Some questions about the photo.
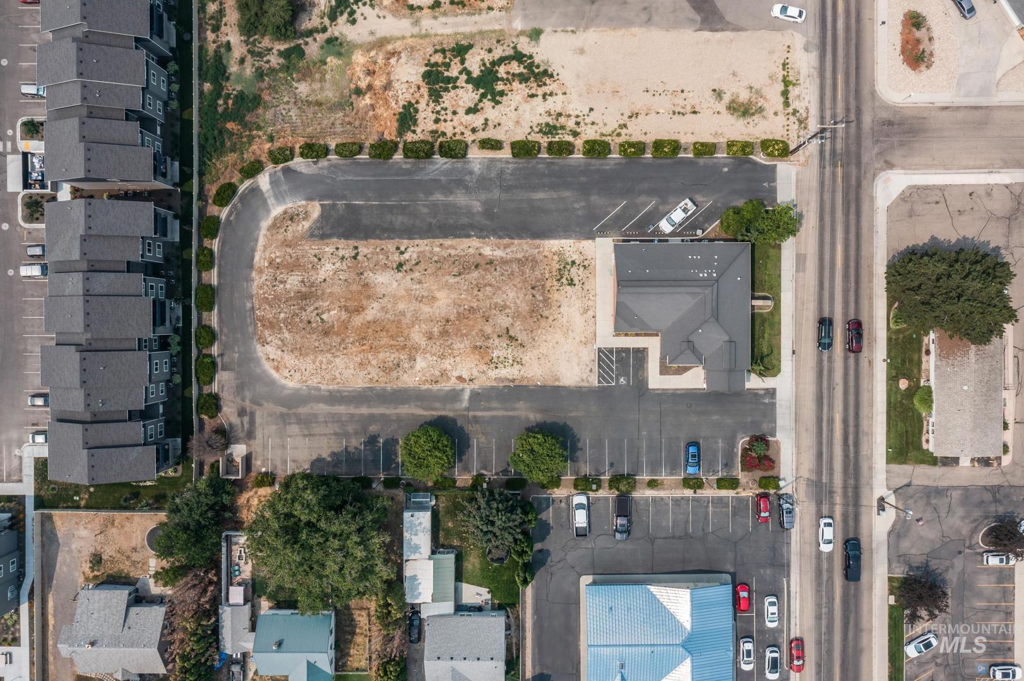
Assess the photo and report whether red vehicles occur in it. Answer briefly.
Yes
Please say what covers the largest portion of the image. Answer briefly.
paved ground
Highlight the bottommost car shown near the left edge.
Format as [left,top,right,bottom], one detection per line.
[29,431,47,446]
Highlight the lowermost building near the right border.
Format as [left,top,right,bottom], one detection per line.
[929,332,1003,458]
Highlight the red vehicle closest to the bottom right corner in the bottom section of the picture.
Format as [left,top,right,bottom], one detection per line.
[789,637,806,671]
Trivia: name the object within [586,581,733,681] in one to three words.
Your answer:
building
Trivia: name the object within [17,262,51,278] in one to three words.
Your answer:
vehicle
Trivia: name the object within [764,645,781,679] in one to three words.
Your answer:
car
